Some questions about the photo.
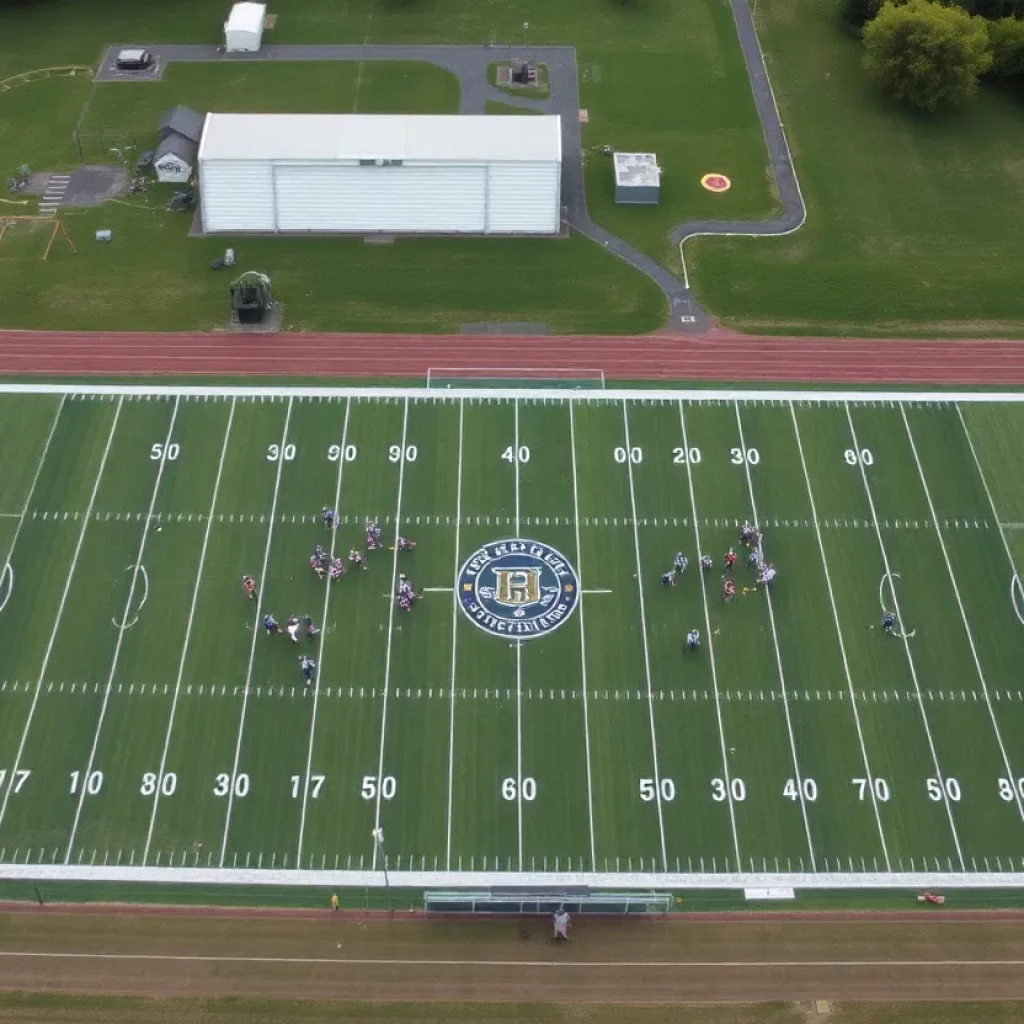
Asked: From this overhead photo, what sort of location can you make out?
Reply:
sports ground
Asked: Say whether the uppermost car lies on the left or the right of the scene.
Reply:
left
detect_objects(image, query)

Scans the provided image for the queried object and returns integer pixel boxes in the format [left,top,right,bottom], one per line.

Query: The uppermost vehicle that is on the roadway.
[117,50,155,71]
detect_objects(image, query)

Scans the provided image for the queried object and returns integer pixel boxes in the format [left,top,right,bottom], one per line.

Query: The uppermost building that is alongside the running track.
[198,112,566,236]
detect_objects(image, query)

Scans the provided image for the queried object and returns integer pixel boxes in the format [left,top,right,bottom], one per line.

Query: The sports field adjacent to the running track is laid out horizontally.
[0,393,1024,873]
